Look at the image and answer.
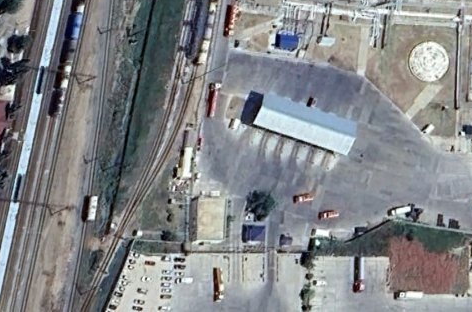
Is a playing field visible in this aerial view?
No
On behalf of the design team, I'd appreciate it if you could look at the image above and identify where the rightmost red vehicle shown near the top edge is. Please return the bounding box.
[223,6,236,37]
